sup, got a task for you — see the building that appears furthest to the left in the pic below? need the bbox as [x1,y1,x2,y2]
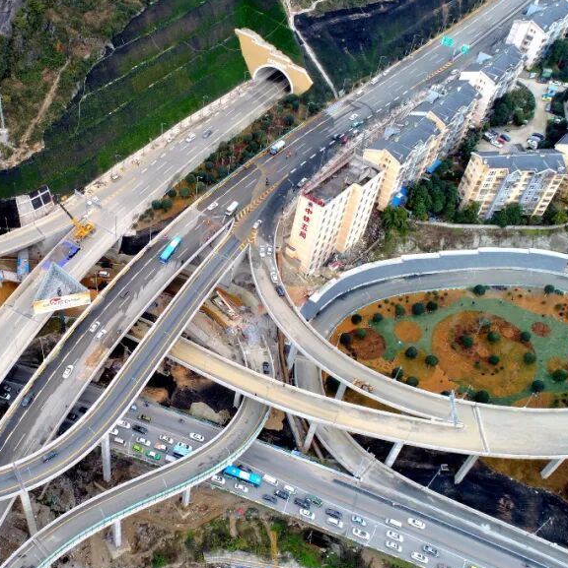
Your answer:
[292,156,382,264]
